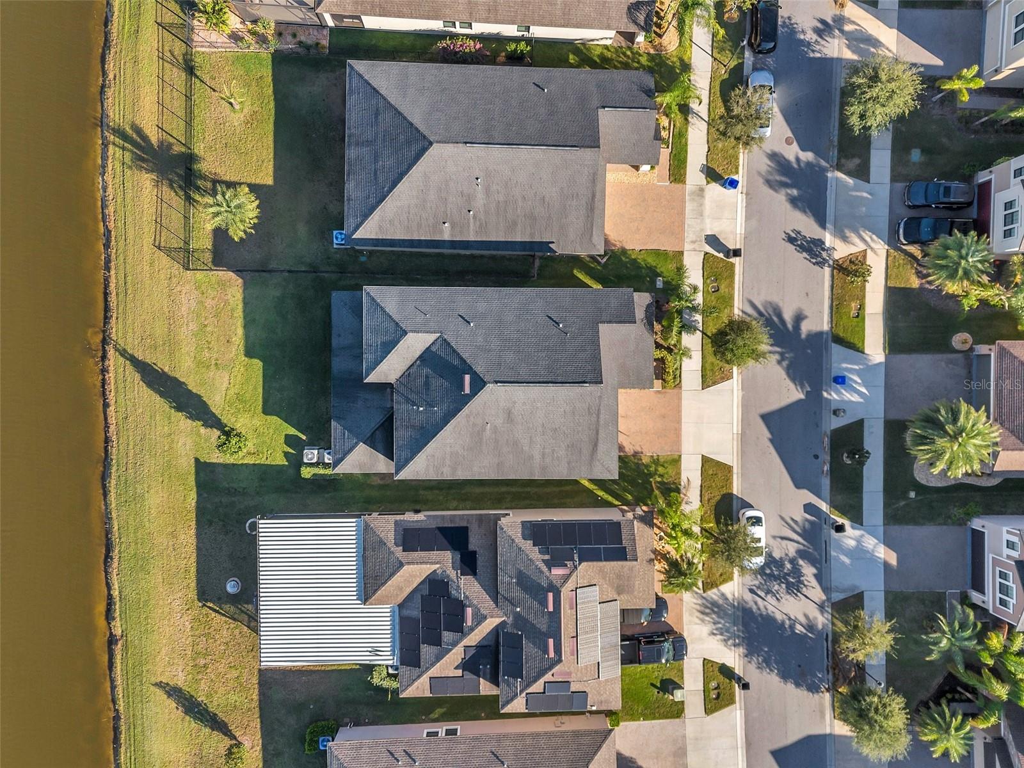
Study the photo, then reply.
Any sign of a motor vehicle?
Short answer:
Yes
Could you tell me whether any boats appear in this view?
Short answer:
No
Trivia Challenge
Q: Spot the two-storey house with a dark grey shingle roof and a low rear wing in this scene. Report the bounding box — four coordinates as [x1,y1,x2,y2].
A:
[331,285,656,480]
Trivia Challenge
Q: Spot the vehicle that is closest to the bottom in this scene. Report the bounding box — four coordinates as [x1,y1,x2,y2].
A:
[620,630,684,663]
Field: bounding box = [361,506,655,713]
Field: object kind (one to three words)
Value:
house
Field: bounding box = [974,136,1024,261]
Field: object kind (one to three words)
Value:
house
